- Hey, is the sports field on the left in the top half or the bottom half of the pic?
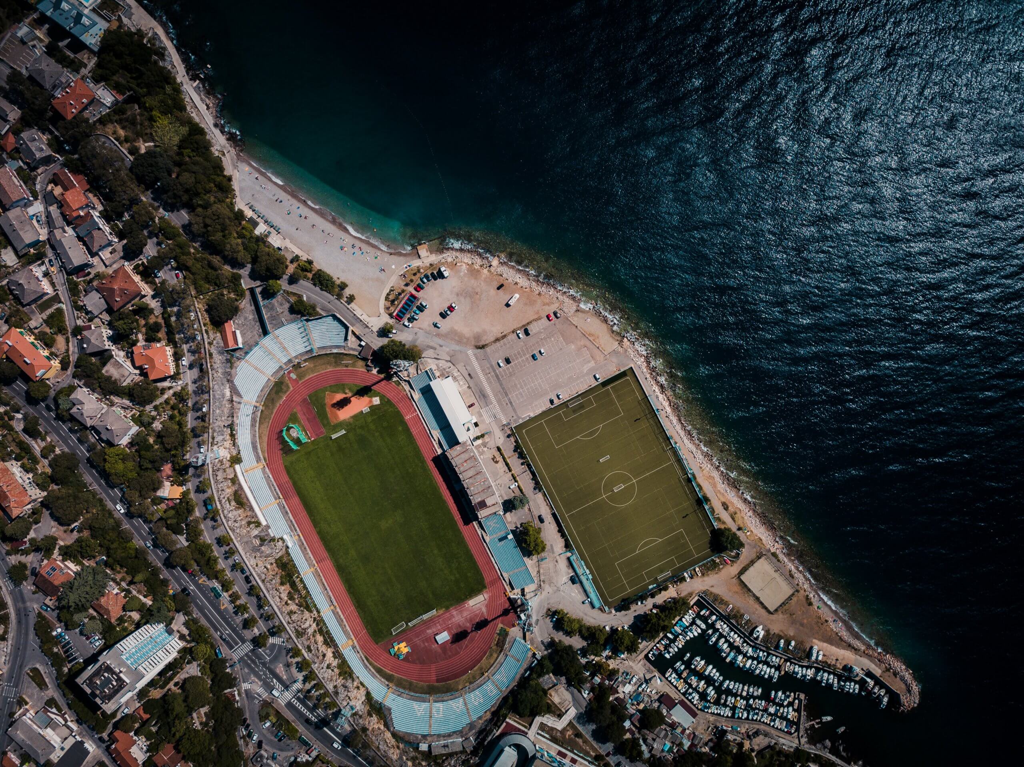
bottom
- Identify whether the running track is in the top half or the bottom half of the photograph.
bottom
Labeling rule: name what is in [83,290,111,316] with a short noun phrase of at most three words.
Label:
house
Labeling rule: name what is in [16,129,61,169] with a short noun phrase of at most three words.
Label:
house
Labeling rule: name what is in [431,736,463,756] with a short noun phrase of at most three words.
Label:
building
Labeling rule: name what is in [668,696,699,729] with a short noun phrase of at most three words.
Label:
building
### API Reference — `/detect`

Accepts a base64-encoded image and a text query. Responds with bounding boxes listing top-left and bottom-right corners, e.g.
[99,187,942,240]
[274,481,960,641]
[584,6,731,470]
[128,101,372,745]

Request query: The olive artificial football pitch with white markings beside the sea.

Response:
[514,367,717,612]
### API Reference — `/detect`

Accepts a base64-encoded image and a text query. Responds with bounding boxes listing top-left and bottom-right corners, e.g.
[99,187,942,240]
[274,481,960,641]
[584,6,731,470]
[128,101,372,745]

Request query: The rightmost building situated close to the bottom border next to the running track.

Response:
[479,704,597,767]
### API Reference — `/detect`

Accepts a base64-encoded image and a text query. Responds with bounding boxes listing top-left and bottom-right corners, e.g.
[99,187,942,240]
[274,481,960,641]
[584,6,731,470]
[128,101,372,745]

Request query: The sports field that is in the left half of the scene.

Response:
[281,383,486,644]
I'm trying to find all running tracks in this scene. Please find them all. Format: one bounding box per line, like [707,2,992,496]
[258,351,522,696]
